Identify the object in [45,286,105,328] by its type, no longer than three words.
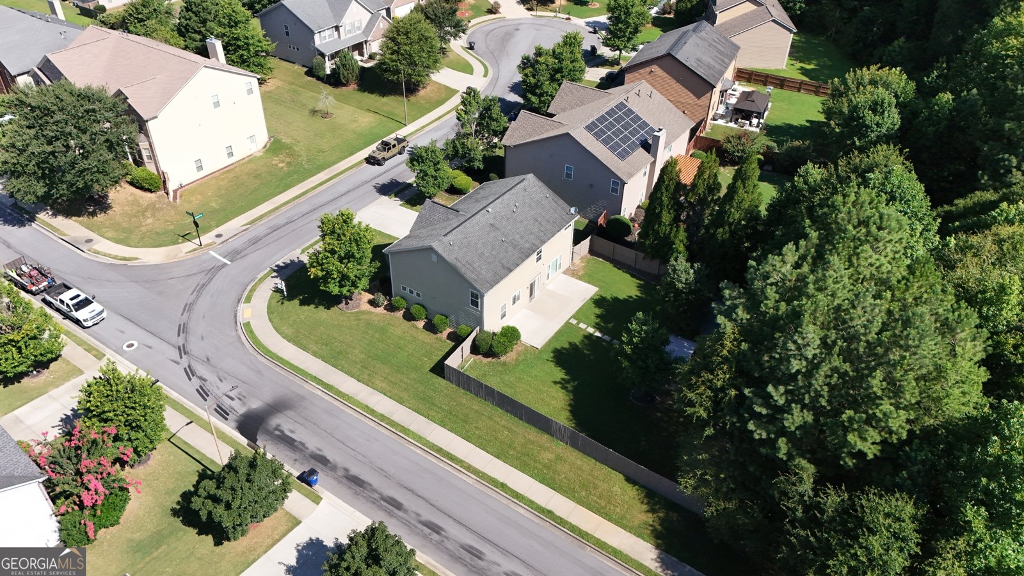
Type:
truck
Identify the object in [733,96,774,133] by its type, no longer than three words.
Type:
gazebo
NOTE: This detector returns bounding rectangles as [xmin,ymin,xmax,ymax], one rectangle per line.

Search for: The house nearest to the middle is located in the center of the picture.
[383,174,580,339]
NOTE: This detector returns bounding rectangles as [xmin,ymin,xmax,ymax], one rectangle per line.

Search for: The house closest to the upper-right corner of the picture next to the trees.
[703,0,798,68]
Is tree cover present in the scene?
Yes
